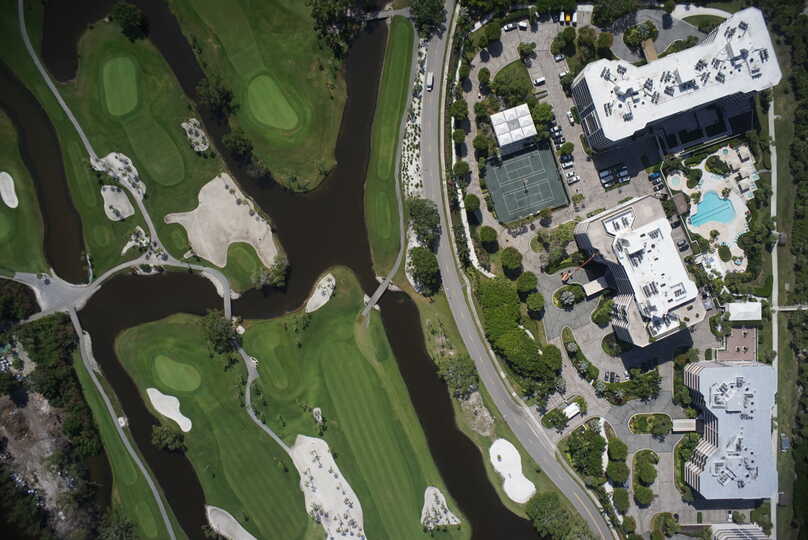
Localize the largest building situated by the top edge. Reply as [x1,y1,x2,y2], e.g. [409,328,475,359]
[569,6,782,152]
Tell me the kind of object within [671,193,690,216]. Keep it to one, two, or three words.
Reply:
gazebo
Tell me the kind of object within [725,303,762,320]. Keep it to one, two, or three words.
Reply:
building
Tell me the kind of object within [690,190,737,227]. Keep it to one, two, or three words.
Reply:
swimming pool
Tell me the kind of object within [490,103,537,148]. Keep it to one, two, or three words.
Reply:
building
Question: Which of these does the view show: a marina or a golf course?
golf course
